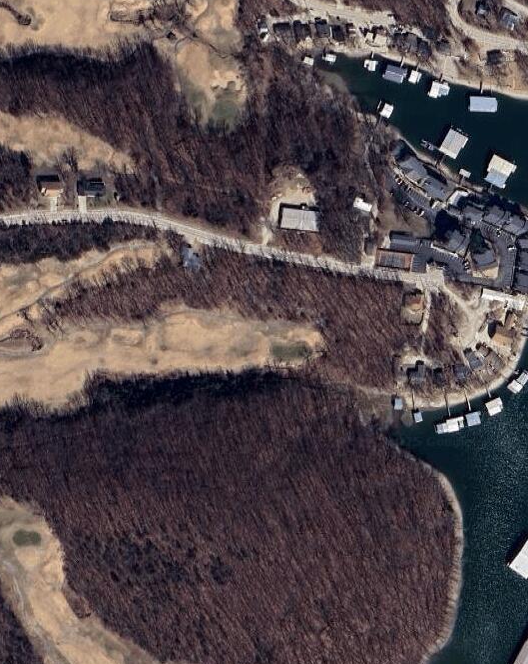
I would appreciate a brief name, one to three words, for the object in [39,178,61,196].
house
